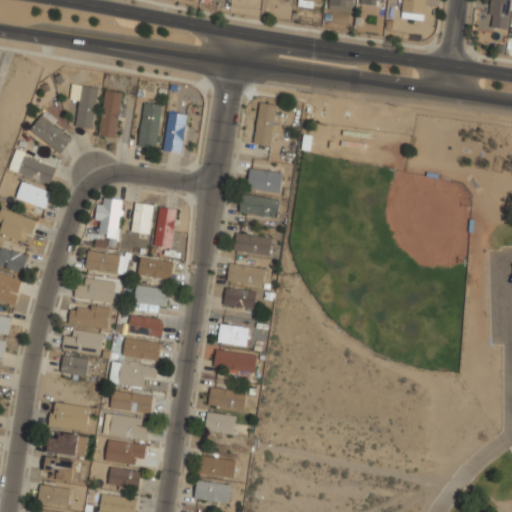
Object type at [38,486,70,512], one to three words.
house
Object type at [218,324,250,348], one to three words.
house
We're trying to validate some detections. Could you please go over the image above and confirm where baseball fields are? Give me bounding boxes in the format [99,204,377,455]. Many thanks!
[290,152,472,373]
